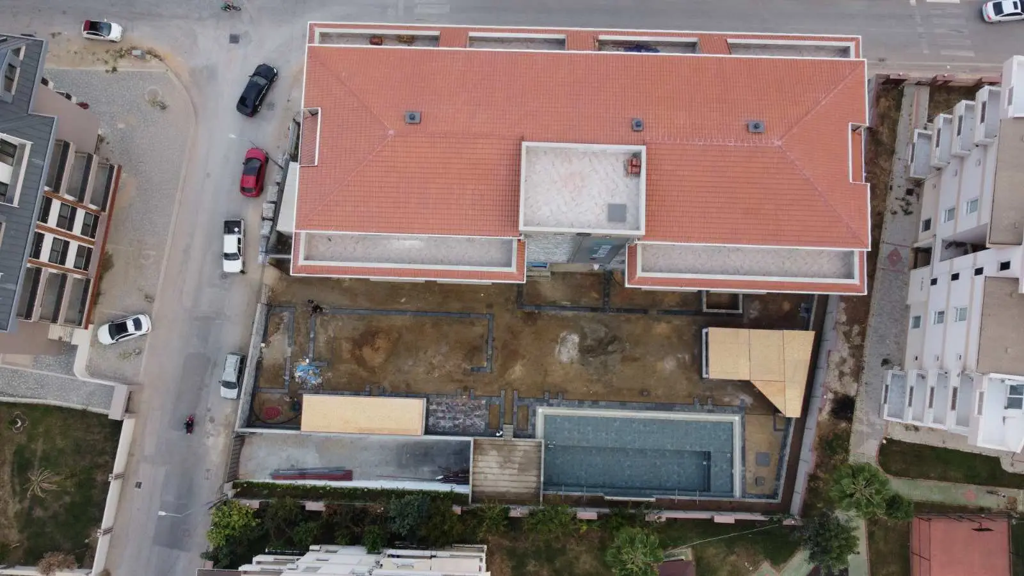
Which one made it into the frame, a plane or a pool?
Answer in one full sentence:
It is a pool that can be seen here.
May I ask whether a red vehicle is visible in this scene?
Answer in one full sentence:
Yes, the frame does contain a red vehicle.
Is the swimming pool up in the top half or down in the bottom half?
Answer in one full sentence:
Seen from above, the swimming pool lies in the bottom half of the view.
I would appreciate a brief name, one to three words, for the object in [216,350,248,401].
car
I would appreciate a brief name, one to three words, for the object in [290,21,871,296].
house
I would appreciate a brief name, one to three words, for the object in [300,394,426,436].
shed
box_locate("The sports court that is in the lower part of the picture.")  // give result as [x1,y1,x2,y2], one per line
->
[913,517,1012,576]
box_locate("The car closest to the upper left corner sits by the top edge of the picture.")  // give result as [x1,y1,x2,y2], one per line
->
[77,18,124,43]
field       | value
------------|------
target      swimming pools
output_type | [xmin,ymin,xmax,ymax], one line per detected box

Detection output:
[538,408,742,506]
